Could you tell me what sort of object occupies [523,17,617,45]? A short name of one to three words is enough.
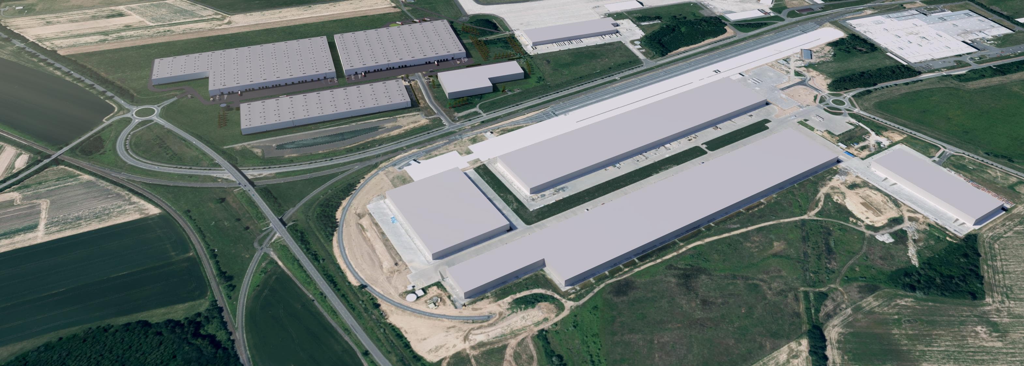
building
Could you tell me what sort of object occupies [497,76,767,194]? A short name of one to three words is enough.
building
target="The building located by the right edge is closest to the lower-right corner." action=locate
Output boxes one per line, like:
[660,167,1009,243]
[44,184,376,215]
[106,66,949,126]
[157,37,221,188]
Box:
[870,148,1004,226]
